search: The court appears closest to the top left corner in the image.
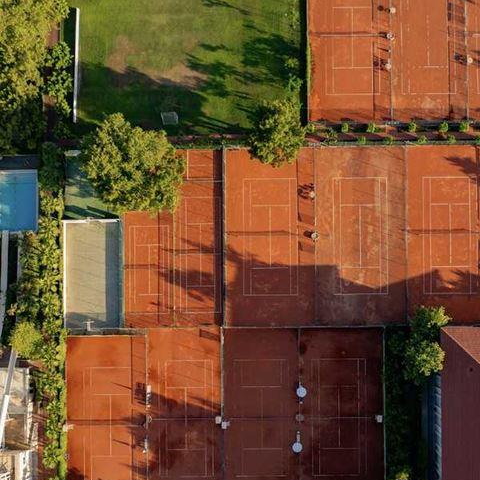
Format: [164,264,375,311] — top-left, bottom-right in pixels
[63,152,124,220]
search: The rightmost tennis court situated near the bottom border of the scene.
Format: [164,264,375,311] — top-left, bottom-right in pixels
[300,328,384,480]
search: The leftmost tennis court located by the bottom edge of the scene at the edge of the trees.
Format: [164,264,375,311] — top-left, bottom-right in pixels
[66,336,147,480]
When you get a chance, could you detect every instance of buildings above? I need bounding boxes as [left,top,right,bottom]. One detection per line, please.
[0,366,39,480]
[429,326,480,480]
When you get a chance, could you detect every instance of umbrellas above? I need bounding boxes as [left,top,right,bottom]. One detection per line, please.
[296,386,306,397]
[292,442,303,452]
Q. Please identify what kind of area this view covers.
sports ground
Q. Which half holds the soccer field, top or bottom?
top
